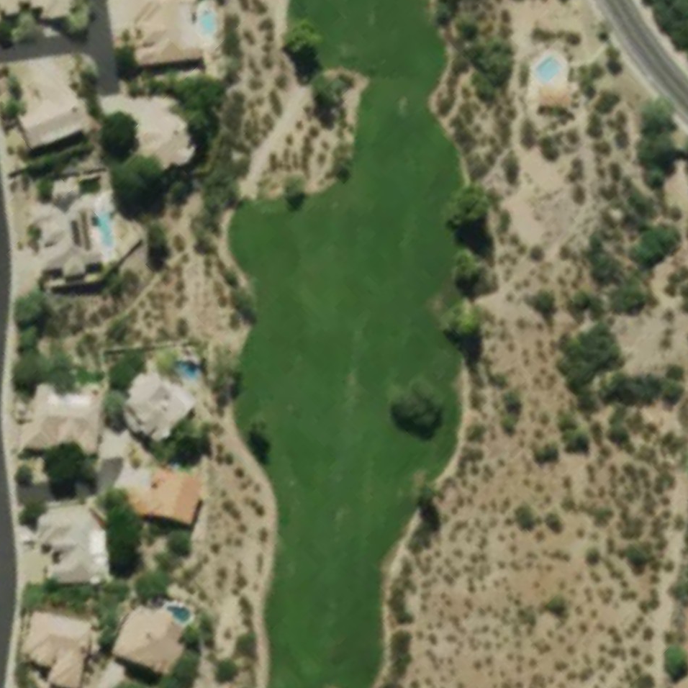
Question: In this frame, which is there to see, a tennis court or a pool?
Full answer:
I can see a pool in this picture.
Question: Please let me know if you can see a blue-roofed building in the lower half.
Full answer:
No, in the lower half there is no blue-roofed building.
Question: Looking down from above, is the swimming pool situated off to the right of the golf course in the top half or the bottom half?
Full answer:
It is in the top half that the swimming pool situated off to the right of the golf course appears.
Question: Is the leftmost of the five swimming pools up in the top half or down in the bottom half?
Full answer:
It is in the top half that the leftmost of the five swimming pools appears.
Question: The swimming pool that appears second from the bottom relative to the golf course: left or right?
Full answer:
To the left of the golf course is where the swimming pool that appears second from the bottom appears.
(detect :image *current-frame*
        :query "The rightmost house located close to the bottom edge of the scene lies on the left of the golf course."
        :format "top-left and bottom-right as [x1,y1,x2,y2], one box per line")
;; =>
[114,599,184,676]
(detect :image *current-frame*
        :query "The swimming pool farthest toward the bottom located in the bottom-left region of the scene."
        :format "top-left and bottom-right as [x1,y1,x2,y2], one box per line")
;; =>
[172,601,193,626]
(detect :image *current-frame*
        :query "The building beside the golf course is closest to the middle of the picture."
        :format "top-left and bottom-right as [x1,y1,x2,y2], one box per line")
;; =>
[120,371,197,441]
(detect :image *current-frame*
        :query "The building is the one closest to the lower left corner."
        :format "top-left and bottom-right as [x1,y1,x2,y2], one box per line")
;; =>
[25,612,92,688]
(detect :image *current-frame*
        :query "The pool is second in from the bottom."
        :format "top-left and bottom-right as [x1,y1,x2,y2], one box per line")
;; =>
[173,354,203,387]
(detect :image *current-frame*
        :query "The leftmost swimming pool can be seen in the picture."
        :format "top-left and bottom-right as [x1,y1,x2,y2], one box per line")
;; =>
[92,188,121,264]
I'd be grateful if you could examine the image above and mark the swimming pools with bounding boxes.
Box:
[173,354,203,387]
[531,48,568,92]
[172,601,193,626]
[198,0,219,43]
[92,188,121,264]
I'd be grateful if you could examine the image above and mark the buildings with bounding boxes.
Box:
[39,506,108,583]
[0,0,78,20]
[541,89,571,108]
[127,467,199,525]
[17,57,91,146]
[120,371,197,441]
[111,0,202,67]
[25,612,92,688]
[126,93,196,166]
[18,386,107,460]
[35,198,102,277]
[114,599,184,676]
